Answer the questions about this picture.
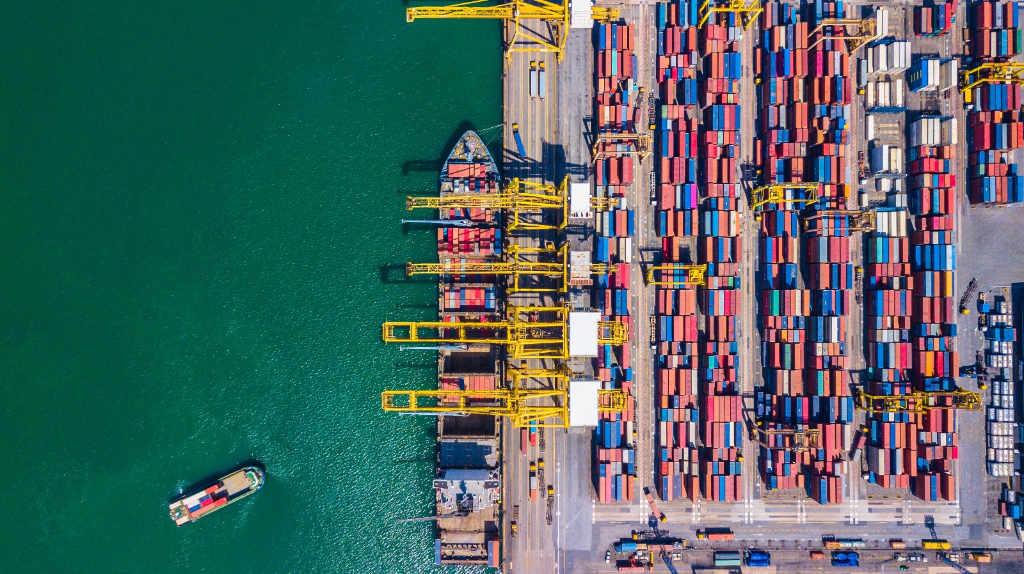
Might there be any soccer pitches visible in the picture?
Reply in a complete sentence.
No, there is no soccer pitch in the image.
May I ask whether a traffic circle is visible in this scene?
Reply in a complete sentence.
No, there appears to be no traffic circle in this shot.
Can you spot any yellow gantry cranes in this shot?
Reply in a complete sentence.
Yes, the picture does show a yellow gantry crane.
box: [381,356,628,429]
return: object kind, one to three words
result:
container crane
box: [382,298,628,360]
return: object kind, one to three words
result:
container crane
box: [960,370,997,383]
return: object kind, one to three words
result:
vehicle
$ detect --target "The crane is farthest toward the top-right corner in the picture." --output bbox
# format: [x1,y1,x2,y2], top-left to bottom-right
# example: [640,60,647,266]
[964,53,1024,90]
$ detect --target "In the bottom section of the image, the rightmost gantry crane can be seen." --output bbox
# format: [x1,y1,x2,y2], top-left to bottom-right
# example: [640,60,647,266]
[911,386,983,415]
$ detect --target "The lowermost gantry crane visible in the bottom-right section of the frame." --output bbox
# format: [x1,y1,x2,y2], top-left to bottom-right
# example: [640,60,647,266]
[751,417,822,448]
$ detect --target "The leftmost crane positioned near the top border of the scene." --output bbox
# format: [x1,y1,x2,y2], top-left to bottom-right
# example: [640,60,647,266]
[404,0,619,71]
